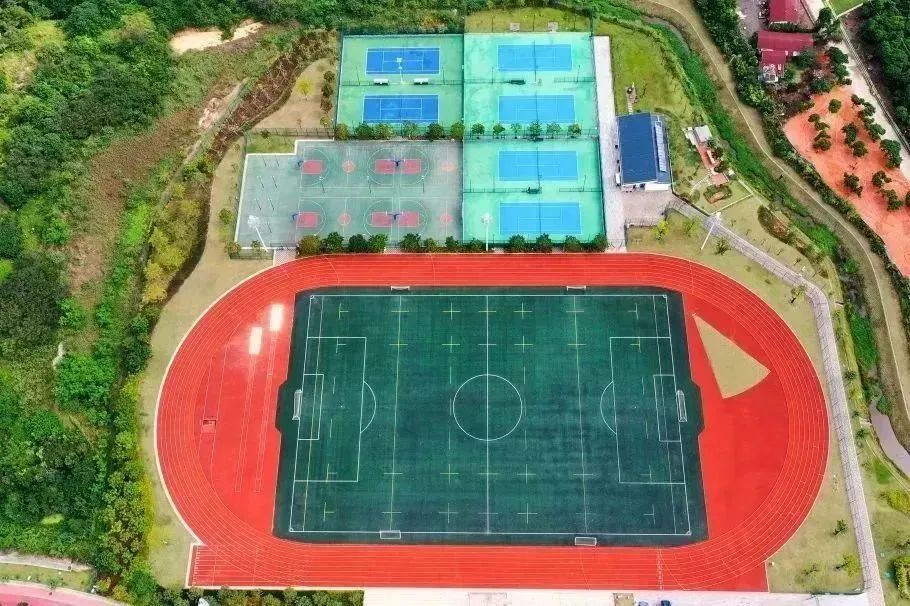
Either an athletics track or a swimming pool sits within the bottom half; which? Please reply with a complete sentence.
There is an athletics track within the bottom half.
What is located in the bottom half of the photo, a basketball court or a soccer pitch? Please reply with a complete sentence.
The one visible in the bottom half of the photo is a soccer pitch.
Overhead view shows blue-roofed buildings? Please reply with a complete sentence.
Yes, there's a blue-roofed building down there.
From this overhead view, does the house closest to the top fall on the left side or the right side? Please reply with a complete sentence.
The house closest to the top is on the right side of the image.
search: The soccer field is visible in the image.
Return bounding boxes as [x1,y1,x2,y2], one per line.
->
[272,286,708,546]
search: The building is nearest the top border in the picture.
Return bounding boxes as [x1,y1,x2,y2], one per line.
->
[763,0,797,28]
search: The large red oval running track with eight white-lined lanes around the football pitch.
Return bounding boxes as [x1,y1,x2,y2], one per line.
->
[154,251,830,594]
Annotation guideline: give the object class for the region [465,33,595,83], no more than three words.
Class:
tennis court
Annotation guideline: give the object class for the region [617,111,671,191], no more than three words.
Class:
building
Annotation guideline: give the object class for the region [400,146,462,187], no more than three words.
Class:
basketball court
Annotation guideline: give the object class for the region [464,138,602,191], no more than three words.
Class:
tennis court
